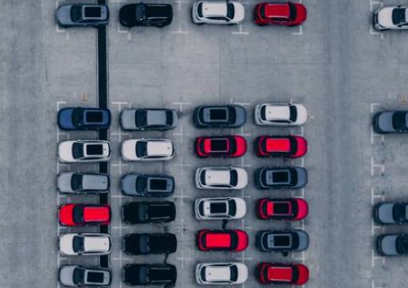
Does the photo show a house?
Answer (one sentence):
No, there is no house in the image.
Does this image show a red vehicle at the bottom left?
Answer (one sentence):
Yes, there is a red vehicle at the bottom left.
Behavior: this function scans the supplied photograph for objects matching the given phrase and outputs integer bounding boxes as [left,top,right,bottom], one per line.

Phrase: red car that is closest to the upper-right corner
[253,0,308,27]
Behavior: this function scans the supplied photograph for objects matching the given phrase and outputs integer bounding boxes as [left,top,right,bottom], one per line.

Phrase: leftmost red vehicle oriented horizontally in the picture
[57,202,112,229]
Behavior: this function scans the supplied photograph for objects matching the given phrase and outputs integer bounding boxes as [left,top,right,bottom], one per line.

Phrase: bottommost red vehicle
[255,261,310,287]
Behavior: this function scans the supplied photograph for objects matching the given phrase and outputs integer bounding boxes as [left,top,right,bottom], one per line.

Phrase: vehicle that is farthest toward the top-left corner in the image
[54,1,109,28]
